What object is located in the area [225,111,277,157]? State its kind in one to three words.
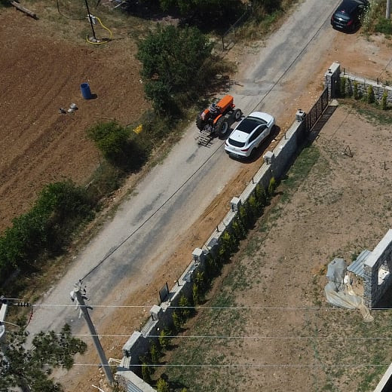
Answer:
car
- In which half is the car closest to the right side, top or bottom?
top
